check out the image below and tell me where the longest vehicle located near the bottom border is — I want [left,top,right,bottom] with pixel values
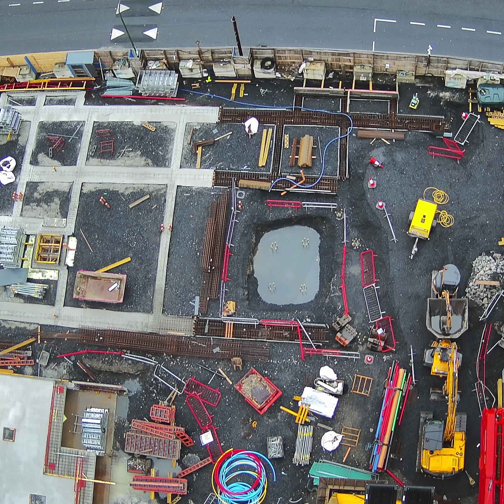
[414,348,470,480]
